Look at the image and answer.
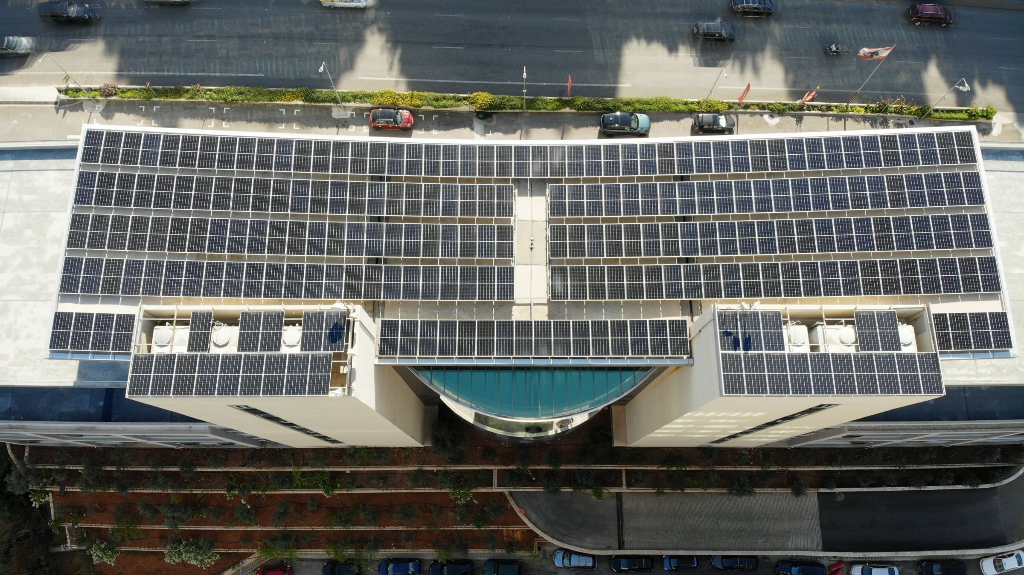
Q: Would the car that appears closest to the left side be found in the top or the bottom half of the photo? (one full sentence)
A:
It is in the top half that the car that appears closest to the left side appears.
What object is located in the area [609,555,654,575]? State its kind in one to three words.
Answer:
car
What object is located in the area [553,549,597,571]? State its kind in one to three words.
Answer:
car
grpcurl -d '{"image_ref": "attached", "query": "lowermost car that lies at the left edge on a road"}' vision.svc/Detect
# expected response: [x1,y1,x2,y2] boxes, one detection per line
[0,35,41,60]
